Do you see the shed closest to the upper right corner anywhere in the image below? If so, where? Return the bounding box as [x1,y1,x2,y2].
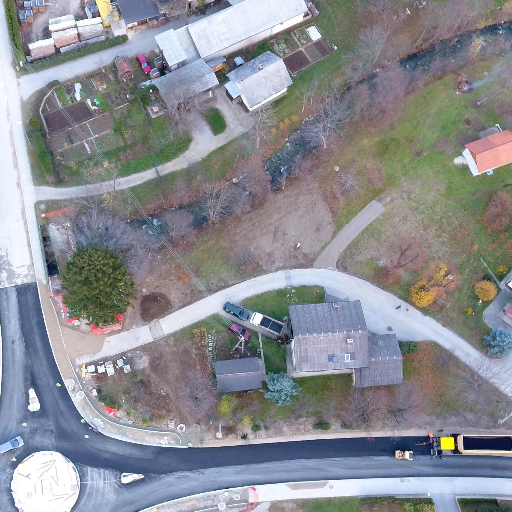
[464,129,512,173]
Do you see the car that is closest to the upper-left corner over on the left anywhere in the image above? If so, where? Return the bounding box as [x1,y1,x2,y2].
[135,53,152,75]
